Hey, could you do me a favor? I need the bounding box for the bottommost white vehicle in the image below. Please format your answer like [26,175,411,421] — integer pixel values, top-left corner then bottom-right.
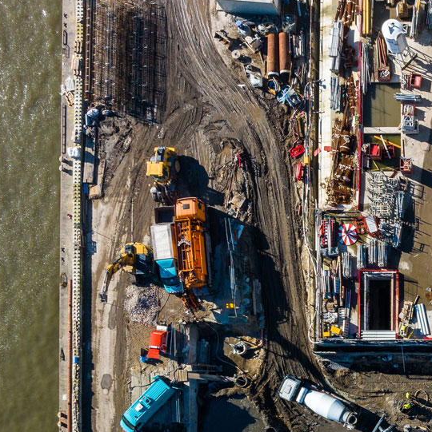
[269,371,358,432]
